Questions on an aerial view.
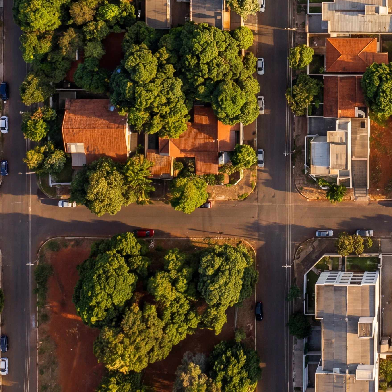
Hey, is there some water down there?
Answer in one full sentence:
No, no water is visible.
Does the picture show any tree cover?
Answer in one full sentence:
Yes, tree cover can be seen from above here.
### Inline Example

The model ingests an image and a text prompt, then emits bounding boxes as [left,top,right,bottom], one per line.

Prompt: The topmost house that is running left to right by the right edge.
[323,0,392,33]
